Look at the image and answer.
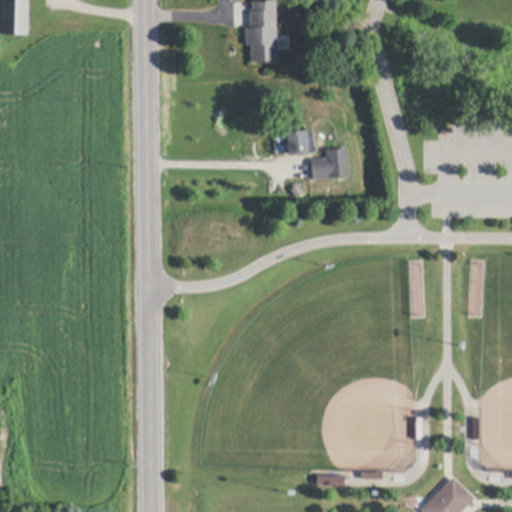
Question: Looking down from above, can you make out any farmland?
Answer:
Yes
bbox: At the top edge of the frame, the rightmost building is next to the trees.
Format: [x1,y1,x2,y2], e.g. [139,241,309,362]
[246,0,278,62]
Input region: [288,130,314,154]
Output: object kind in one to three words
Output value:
building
